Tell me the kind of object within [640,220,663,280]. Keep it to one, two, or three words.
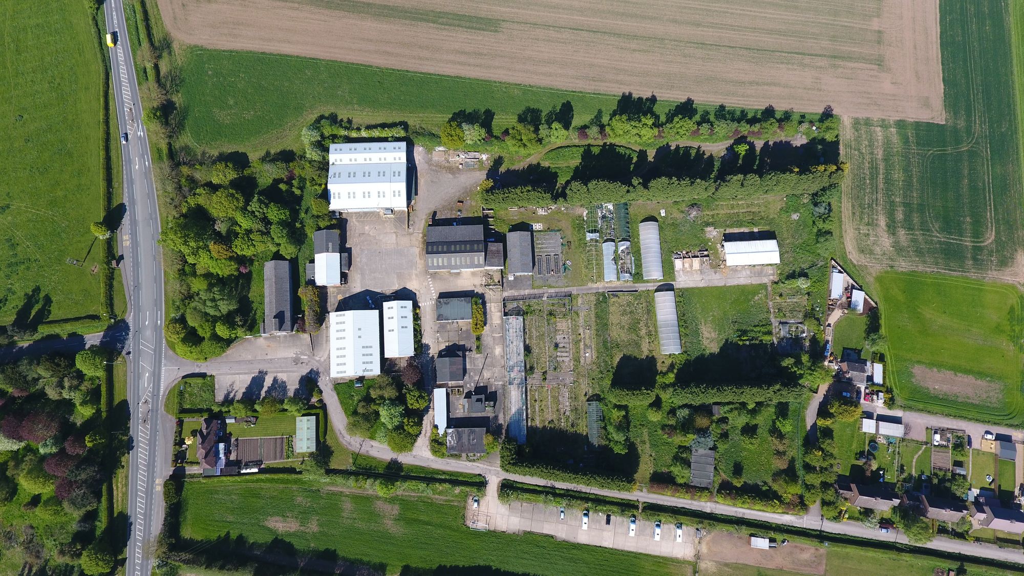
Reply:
greenhouse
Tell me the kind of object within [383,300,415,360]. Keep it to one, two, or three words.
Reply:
building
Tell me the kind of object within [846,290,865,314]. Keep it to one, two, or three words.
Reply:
shed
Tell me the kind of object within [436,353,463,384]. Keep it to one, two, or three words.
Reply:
house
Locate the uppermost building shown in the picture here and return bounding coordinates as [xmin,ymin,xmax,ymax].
[328,141,407,167]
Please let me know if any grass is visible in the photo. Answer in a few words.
Yes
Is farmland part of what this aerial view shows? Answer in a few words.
Yes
